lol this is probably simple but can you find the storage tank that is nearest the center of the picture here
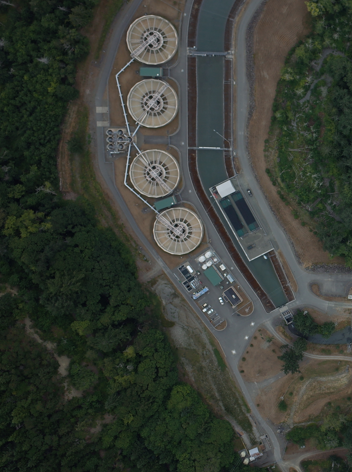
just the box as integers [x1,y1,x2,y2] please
[153,206,205,256]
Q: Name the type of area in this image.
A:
industrial area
